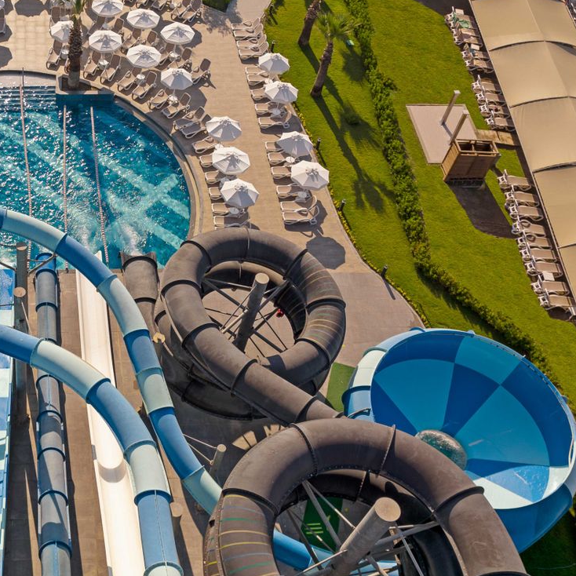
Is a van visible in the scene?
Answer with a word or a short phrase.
No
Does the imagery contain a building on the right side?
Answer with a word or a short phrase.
Yes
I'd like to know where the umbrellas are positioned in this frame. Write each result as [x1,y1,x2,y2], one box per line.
[263,82,300,115]
[160,26,194,56]
[276,131,312,165]
[158,67,194,100]
[88,34,122,66]
[256,52,292,85]
[126,47,162,80]
[212,147,251,182]
[92,0,124,26]
[47,23,71,52]
[220,181,260,215]
[206,116,243,150]
[125,11,159,41]
[290,164,330,198]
